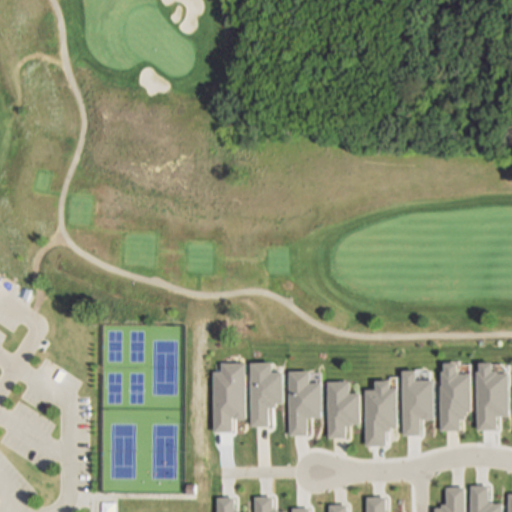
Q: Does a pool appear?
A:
No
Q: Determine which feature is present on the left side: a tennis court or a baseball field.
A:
tennis court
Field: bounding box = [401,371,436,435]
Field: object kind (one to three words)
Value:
house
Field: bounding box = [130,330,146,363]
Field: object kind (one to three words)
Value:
sports court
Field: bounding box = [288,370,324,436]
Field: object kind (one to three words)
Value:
house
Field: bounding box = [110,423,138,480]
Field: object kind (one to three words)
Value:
tennis court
